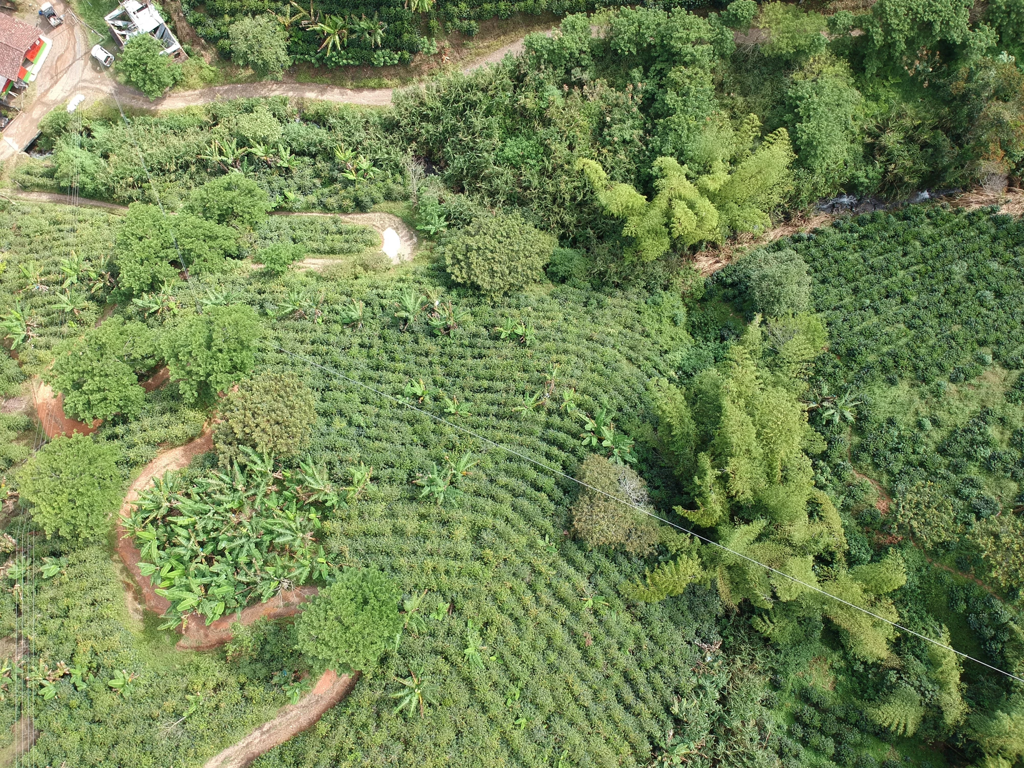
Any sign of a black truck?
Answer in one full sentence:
No, there appears to be no black truck in this shot.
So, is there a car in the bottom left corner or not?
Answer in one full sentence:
No, there's no car to be seen in the bottom left corner.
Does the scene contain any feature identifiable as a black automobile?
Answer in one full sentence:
No, I can see no black automobile in this picture.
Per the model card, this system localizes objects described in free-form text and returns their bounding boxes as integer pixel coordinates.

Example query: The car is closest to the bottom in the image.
[90,45,118,71]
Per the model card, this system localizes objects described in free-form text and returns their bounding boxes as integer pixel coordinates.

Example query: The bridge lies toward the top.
[0,104,53,164]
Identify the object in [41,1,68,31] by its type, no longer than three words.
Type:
truck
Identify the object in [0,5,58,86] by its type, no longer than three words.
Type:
house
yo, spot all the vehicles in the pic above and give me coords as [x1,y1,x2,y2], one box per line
[41,1,68,31]
[90,45,118,71]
